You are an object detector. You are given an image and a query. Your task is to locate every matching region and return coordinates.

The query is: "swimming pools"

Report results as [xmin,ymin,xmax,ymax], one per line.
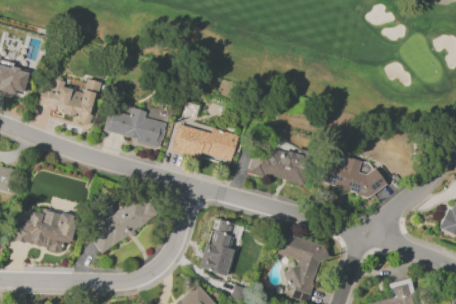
[268,259,282,286]
[26,38,42,60]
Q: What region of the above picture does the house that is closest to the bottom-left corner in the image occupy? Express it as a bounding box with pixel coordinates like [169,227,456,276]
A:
[16,206,75,254]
